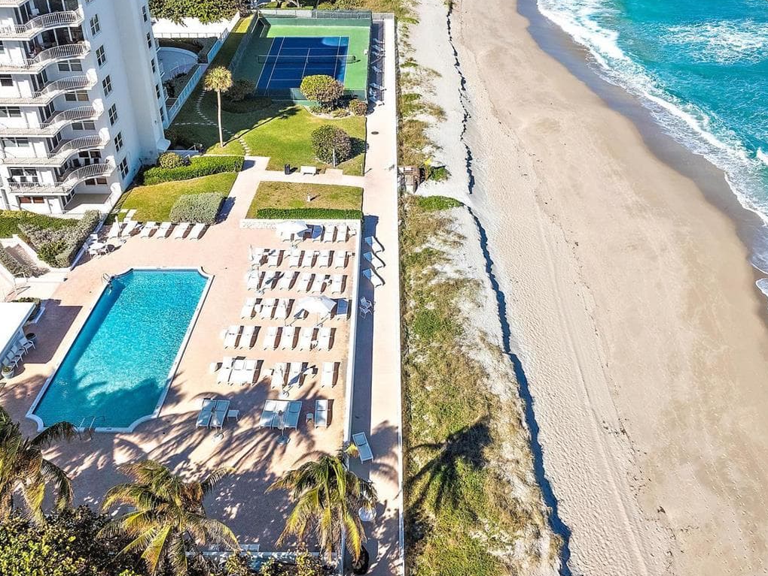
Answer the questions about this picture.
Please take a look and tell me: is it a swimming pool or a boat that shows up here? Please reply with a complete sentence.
The image shows a swimming pool.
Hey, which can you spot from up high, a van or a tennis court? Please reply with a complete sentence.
Looking from above, you can make out a tennis court.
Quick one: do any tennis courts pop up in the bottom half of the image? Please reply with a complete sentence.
No, there is no tennis court in the bottom half of the image.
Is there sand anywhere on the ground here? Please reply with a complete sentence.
Yes, sand can be seen from above here.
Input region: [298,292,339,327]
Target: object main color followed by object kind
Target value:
white umbrella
